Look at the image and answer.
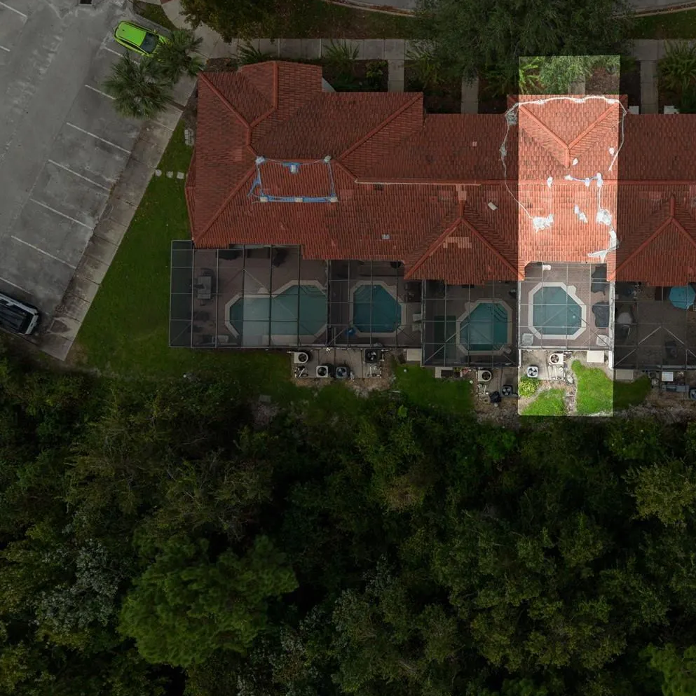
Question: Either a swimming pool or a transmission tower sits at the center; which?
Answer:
swimming pool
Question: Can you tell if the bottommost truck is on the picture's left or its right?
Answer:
left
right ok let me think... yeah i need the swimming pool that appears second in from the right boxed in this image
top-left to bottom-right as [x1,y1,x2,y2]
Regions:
[456,300,513,356]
